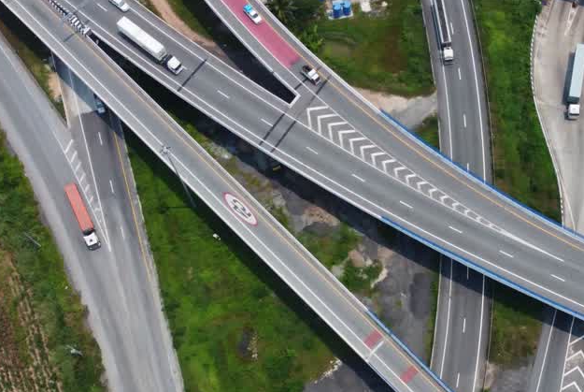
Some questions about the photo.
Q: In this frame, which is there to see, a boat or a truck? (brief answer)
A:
truck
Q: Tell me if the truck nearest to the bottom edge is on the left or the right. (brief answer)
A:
left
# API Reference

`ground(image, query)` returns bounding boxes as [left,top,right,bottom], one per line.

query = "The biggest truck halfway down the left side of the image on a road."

[61,178,104,254]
